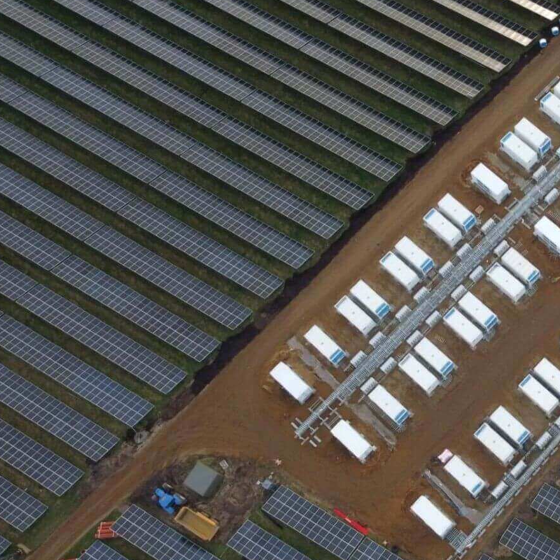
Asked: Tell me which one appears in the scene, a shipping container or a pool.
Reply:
shipping container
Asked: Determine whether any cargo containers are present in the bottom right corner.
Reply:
Yes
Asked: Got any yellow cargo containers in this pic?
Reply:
No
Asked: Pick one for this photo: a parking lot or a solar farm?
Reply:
solar farm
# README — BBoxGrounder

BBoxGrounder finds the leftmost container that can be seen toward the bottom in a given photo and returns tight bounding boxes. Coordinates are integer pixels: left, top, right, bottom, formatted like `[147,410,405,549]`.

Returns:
[271,363,316,406]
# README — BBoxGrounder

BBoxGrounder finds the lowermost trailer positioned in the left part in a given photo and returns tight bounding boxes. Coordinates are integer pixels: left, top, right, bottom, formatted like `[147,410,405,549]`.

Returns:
[173,505,220,541]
